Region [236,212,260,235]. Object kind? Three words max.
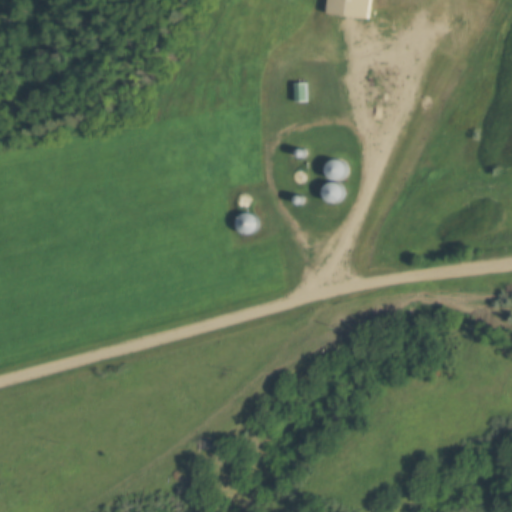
silo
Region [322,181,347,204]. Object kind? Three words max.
silo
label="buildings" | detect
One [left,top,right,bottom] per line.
[326,0,374,21]
[294,82,310,103]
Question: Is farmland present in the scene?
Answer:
Yes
